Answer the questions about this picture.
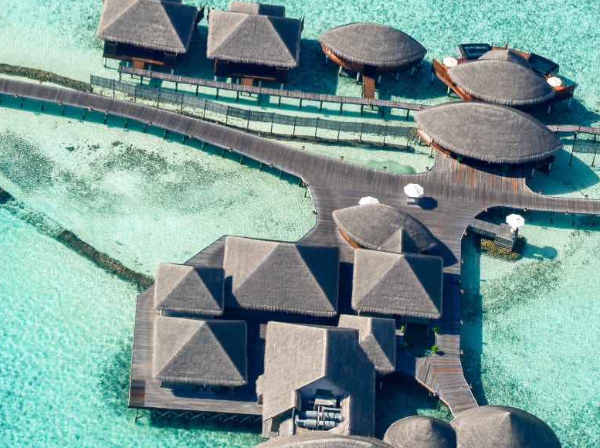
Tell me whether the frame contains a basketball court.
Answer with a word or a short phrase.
No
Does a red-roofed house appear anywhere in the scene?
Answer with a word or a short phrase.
No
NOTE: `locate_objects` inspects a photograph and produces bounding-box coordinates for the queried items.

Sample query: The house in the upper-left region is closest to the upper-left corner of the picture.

[94,0,203,71]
